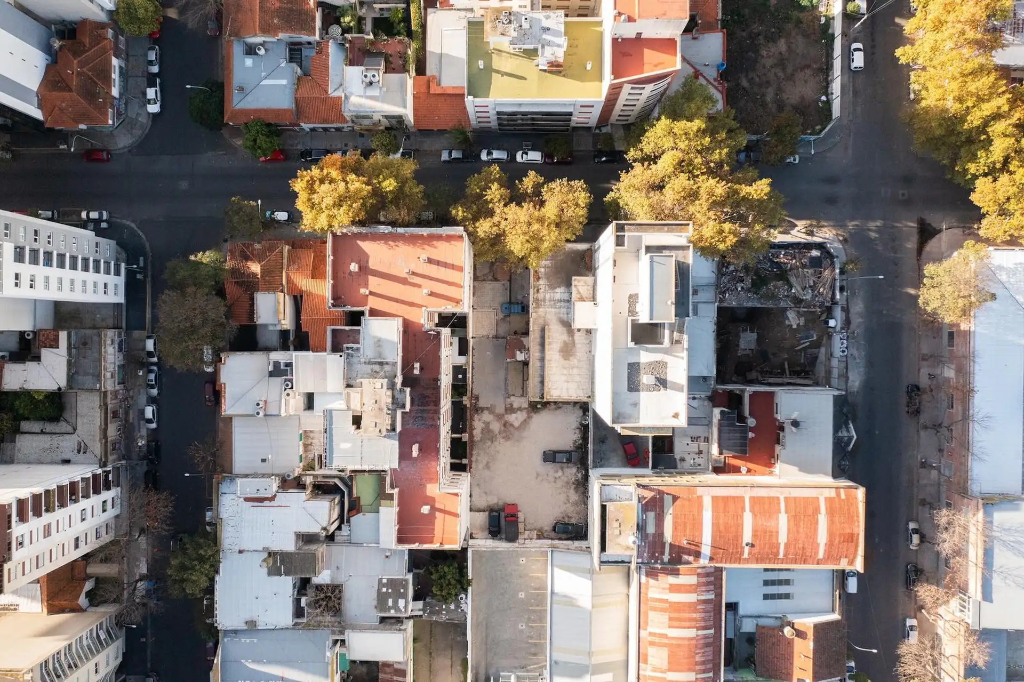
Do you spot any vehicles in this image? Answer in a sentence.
Yes, the picture does show a vehicle.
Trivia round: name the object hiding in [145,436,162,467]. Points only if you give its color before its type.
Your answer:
black car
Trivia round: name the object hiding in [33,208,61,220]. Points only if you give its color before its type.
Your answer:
gray vehicle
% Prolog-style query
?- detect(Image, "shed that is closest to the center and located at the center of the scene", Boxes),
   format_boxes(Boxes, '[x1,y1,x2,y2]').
[506,337,528,360]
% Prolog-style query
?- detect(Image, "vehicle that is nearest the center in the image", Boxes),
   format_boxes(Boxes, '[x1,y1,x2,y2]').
[501,302,527,314]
